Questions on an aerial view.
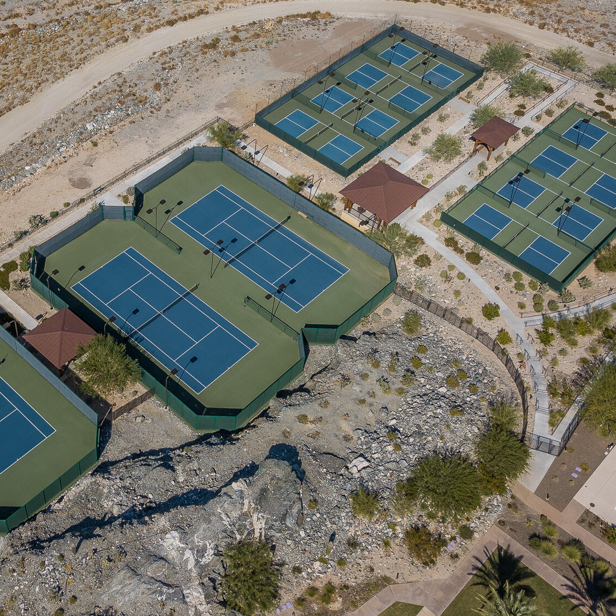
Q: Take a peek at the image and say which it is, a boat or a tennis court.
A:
tennis court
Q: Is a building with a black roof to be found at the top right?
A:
No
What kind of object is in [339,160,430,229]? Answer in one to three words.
building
